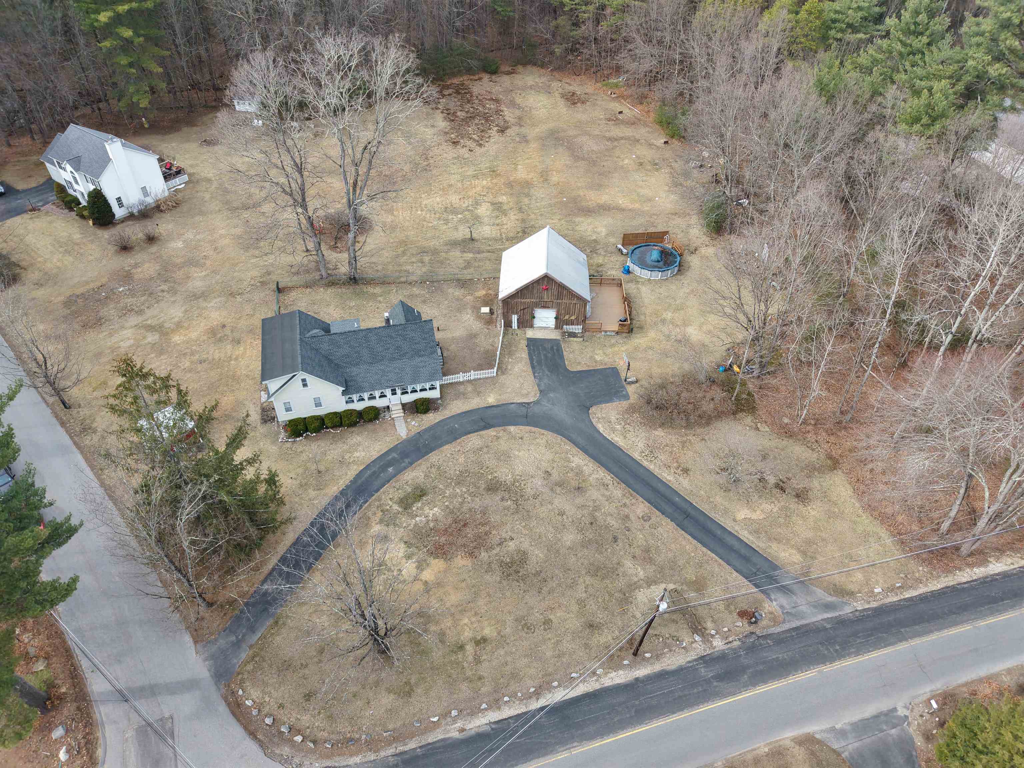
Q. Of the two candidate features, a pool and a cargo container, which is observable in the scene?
pool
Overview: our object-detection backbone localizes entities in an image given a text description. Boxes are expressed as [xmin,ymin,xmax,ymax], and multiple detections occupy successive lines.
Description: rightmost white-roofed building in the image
[499,227,590,331]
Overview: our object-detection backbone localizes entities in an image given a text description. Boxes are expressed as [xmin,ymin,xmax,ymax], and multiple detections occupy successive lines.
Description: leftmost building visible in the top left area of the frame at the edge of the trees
[40,123,170,219]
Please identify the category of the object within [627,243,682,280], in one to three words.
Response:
swimming pool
